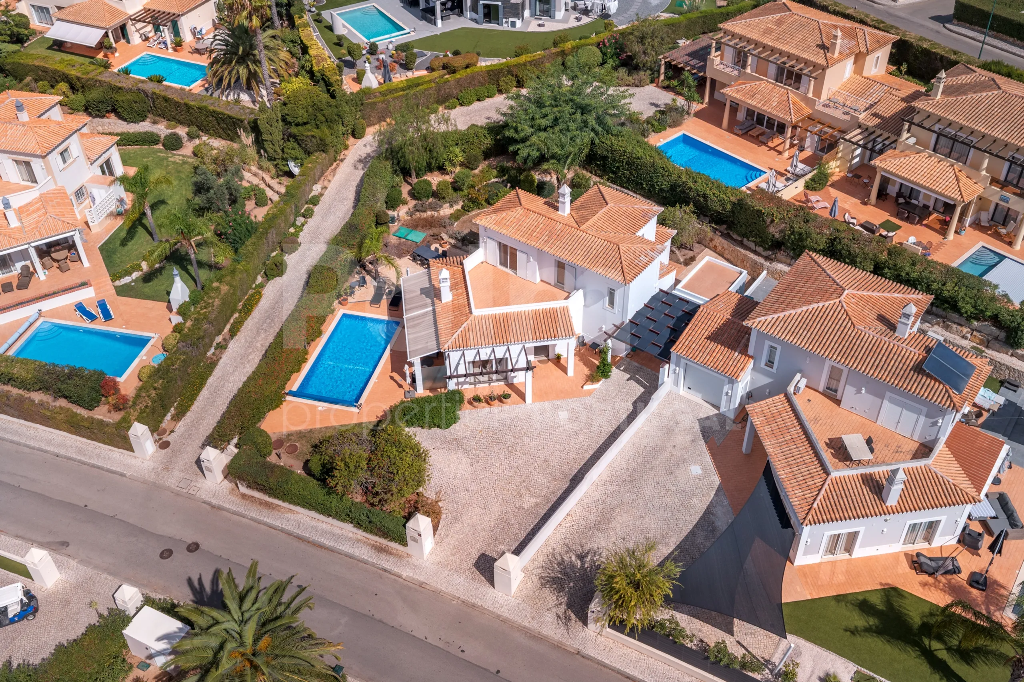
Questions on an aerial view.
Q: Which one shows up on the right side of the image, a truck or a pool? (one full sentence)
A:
Looking on the right side of the image, you will find a pool.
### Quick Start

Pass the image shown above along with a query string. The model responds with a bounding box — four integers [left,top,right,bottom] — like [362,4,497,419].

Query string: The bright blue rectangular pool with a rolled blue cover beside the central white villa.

[287,309,404,412]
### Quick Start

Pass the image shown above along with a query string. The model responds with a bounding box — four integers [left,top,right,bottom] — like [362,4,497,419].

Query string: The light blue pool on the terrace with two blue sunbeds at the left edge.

[3,316,159,381]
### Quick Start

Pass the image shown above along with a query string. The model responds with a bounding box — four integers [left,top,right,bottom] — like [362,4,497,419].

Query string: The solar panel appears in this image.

[922,341,977,400]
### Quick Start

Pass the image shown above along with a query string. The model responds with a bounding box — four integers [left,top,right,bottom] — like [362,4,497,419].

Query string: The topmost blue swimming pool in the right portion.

[645,130,770,195]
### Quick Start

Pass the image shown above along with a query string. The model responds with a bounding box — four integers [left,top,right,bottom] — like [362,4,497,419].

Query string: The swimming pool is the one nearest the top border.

[342,2,415,45]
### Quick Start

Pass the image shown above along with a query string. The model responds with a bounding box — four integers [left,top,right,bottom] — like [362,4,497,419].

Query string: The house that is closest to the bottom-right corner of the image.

[669,248,1010,566]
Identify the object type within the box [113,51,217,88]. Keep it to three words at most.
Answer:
swimming pool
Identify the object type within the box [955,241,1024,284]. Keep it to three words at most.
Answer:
swimming pool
